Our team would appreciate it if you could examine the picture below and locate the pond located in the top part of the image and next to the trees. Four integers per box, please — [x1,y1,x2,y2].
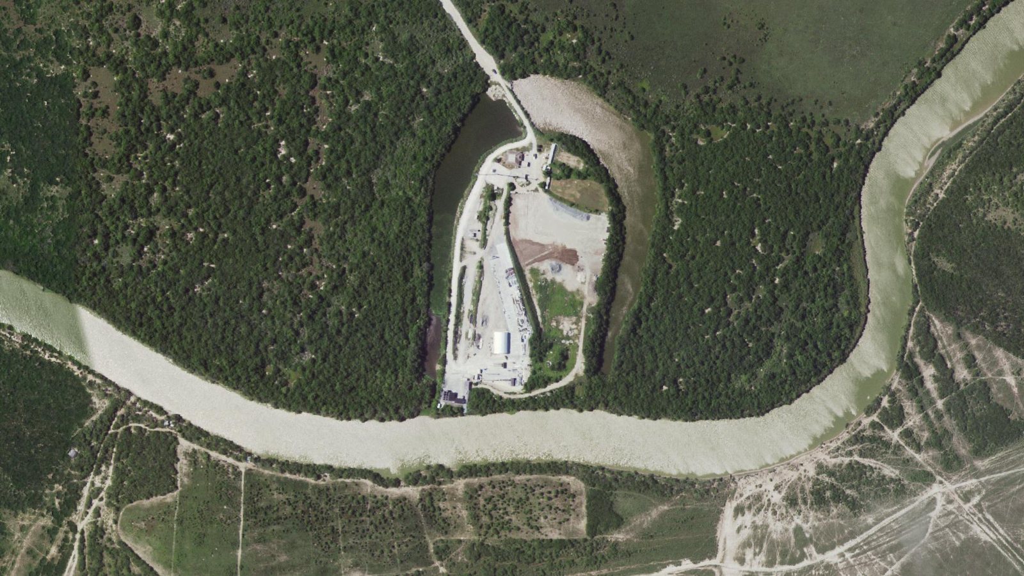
[432,95,521,313]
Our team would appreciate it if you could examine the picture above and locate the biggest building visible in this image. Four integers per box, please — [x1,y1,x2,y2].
[493,332,509,354]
